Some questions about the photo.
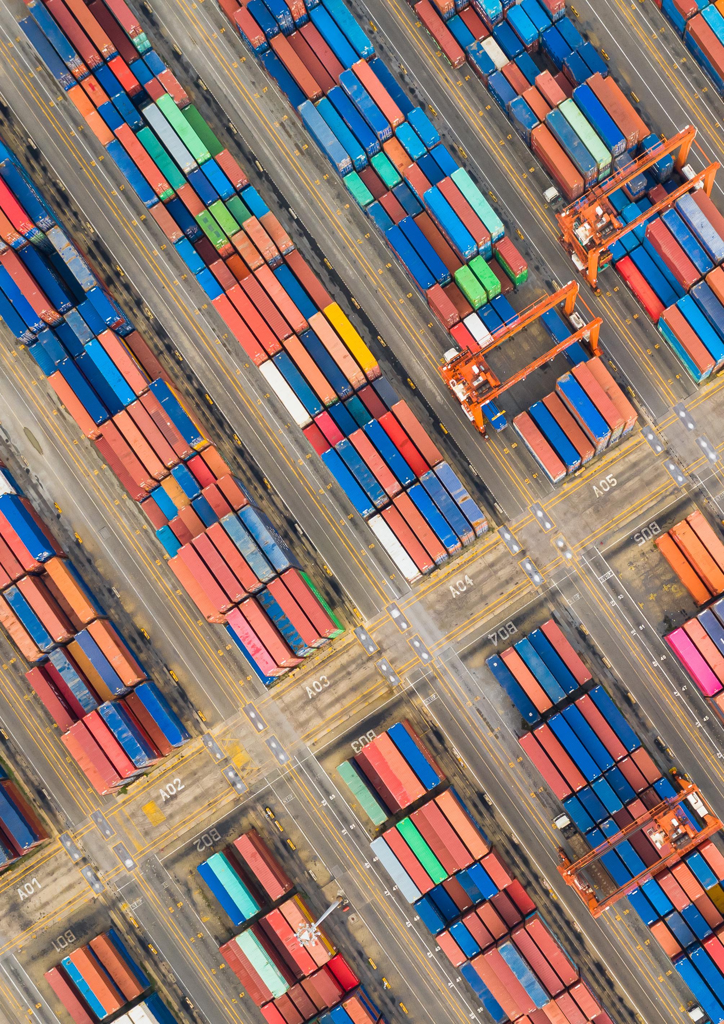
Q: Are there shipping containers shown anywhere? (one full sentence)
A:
Yes, a shipping container appears in the view.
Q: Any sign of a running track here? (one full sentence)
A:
No, there is no running track in the image.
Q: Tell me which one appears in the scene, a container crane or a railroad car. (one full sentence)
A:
Visible in the photo is a container crane.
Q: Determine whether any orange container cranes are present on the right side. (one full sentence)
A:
Yes, on the right side there is an orange container crane.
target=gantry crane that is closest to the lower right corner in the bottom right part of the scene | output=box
[556,767,724,923]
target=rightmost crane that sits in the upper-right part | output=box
[562,116,724,302]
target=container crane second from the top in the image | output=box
[441,274,607,445]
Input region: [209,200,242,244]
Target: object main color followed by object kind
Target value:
green shipping container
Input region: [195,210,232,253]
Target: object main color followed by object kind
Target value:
green shipping container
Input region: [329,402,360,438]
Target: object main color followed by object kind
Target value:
blue shipping container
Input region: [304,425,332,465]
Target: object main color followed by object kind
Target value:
red shipping container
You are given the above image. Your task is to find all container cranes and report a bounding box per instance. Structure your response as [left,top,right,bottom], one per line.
[556,767,724,923]
[562,116,724,302]
[441,274,607,445]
